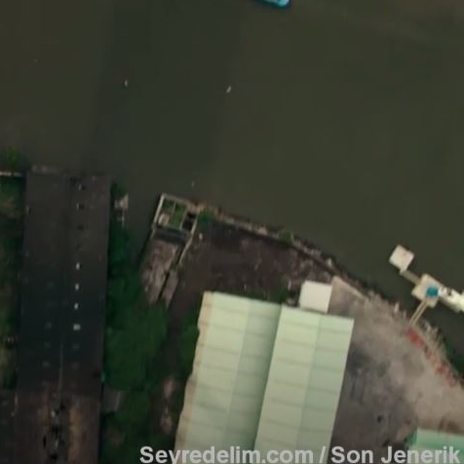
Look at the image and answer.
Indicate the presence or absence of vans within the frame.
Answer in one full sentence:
No, there isn't any van down there.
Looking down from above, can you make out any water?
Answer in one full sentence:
Yes, water shows up in the scene.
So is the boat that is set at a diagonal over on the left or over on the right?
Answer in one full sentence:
The boat that is set at a diagonal sits on the right side.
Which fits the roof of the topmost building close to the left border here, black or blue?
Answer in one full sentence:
From above, the roof of the topmost building close to the left border appears black.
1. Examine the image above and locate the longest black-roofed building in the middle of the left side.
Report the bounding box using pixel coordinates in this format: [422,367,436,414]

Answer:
[16,167,111,396]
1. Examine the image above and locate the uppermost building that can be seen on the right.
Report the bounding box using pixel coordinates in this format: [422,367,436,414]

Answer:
[293,281,333,312]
